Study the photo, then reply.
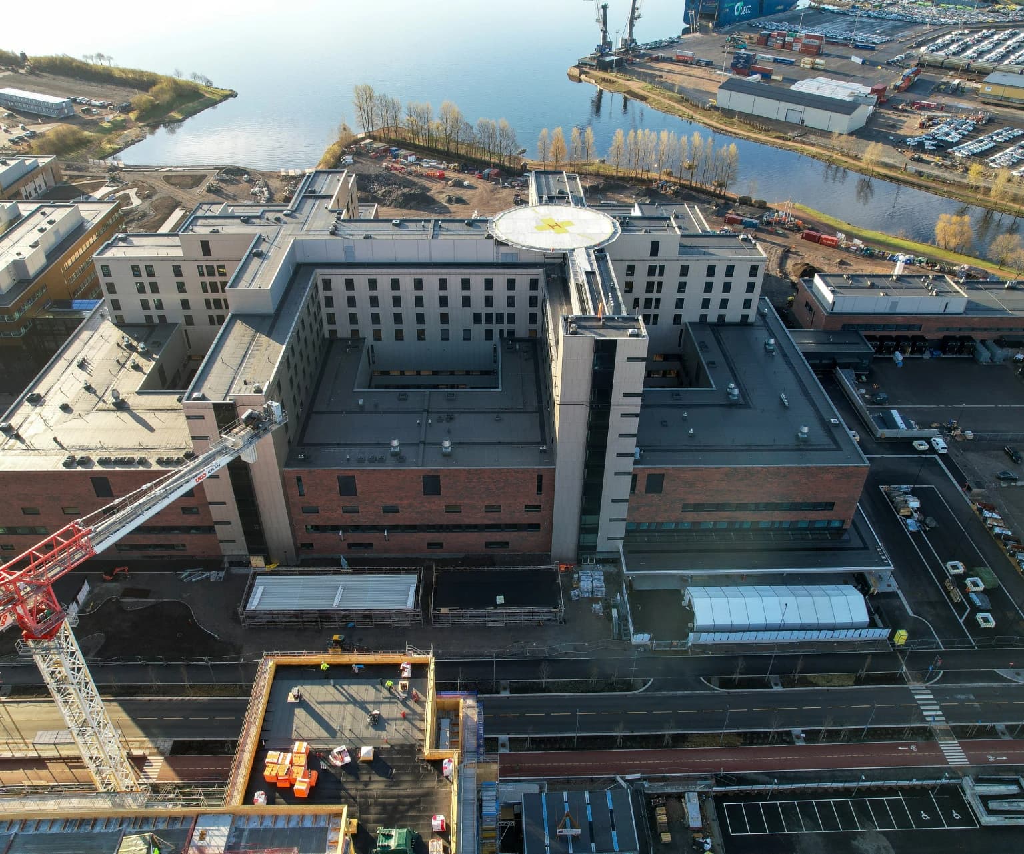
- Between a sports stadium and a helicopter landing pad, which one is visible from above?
helicopter landing pad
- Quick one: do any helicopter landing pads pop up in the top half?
Yes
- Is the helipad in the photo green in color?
No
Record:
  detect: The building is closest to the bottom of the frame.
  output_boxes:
[520,790,638,854]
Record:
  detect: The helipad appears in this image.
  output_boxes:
[488,205,619,301]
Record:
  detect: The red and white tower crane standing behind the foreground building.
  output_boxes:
[0,407,290,791]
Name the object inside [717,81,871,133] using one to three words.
shed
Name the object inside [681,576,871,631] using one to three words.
tent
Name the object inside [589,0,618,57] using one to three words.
crane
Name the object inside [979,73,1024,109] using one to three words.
shed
